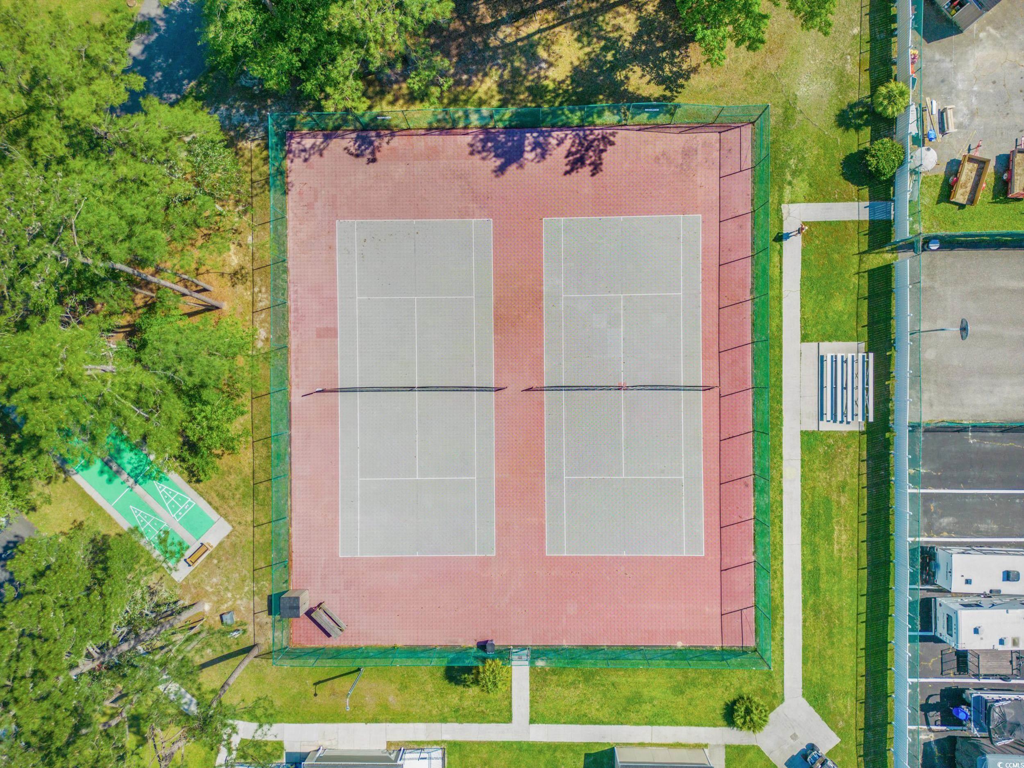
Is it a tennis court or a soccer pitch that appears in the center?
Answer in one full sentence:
The feature located in the center is a tennis court.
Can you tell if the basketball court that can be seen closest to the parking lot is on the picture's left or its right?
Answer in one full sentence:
The basketball court that can be seen closest to the parking lot sits on the right side.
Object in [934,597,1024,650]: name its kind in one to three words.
trailer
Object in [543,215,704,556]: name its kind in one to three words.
tennis court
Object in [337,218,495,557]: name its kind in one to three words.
tennis court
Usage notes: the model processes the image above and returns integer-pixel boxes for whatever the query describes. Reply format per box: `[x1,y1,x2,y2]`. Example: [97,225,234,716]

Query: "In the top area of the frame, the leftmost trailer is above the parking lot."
[944,139,991,209]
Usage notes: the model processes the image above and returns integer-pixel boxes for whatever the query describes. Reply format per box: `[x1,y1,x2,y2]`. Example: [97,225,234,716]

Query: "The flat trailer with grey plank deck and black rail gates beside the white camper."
[956,650,1024,682]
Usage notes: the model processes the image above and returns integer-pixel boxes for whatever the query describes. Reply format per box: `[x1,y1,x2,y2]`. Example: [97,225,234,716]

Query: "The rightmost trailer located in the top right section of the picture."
[994,132,1024,201]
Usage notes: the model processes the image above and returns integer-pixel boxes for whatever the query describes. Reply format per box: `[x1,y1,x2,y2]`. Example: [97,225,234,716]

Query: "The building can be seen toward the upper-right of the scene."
[935,0,1006,32]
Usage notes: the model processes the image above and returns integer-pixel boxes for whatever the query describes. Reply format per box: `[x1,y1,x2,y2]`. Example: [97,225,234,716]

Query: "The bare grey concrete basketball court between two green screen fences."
[897,241,1024,423]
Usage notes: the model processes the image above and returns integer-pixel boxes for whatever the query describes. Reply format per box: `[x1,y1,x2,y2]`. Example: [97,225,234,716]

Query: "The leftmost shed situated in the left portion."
[277,590,309,618]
